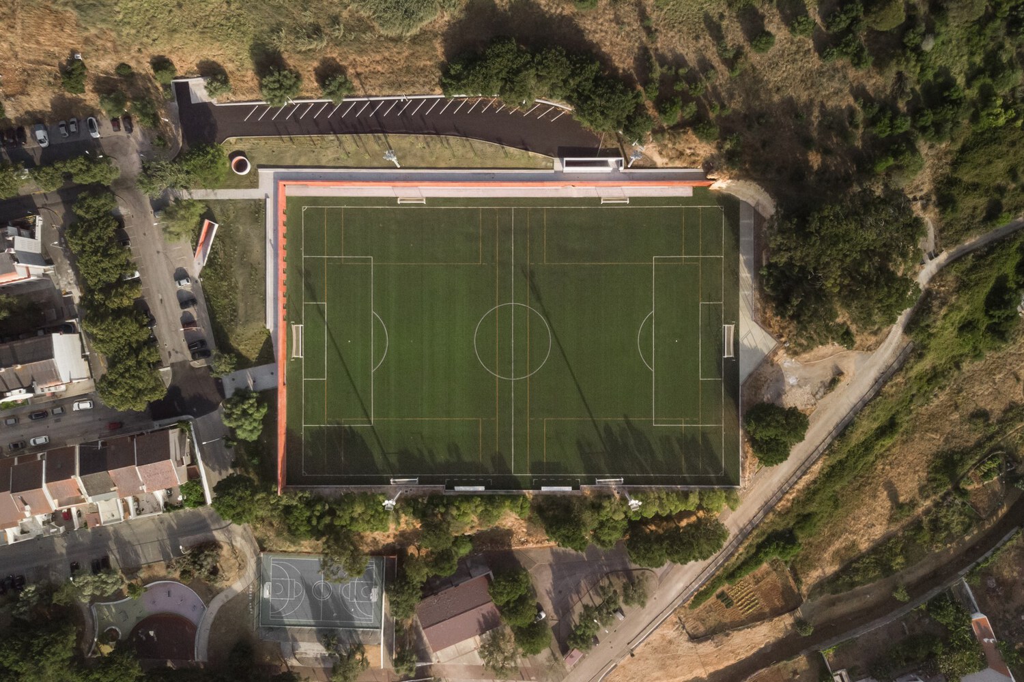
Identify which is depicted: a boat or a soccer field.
soccer field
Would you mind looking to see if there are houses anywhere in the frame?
Yes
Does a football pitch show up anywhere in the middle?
Yes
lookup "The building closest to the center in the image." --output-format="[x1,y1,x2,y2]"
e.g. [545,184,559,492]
[564,157,625,171]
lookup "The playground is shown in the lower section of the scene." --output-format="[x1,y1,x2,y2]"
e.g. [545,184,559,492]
[93,582,201,663]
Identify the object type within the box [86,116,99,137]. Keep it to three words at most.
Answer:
vehicle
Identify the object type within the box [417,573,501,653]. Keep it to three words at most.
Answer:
building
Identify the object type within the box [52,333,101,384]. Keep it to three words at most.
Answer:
house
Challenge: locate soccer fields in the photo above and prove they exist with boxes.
[286,187,740,490]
